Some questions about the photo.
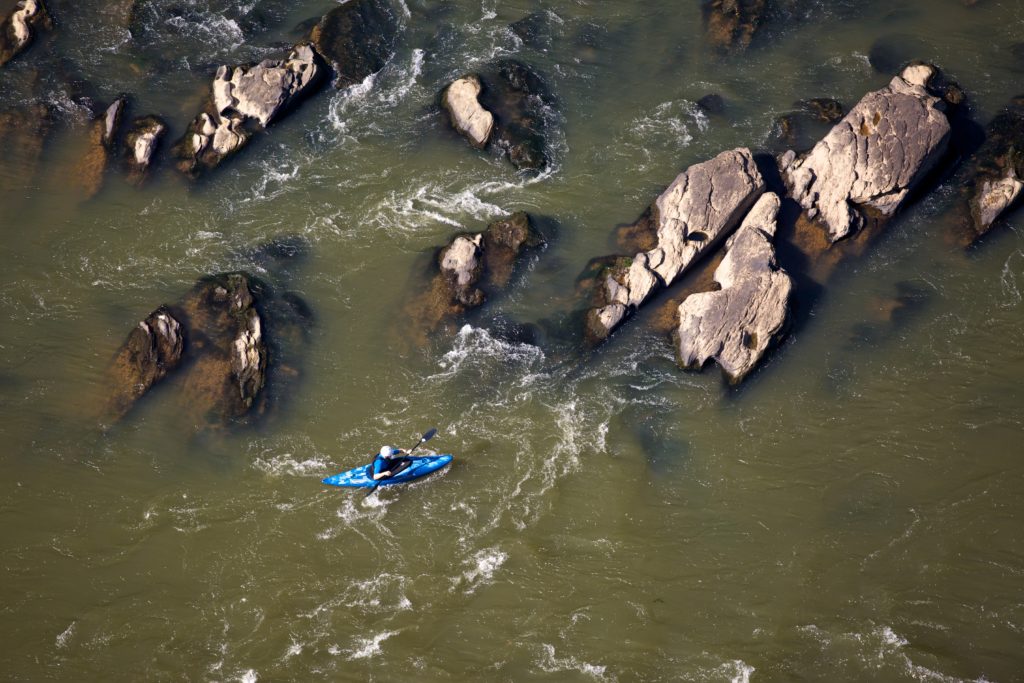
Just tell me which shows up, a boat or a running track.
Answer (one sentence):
Looking from above, you can make out a boat.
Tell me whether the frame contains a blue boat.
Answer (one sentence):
Yes, the frame does contain a blue boat.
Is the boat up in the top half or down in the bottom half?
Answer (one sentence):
The boat sits in the bottom half of the picture.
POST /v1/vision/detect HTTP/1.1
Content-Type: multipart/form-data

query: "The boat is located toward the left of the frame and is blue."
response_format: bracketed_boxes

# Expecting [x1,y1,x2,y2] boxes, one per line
[322,456,452,487]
